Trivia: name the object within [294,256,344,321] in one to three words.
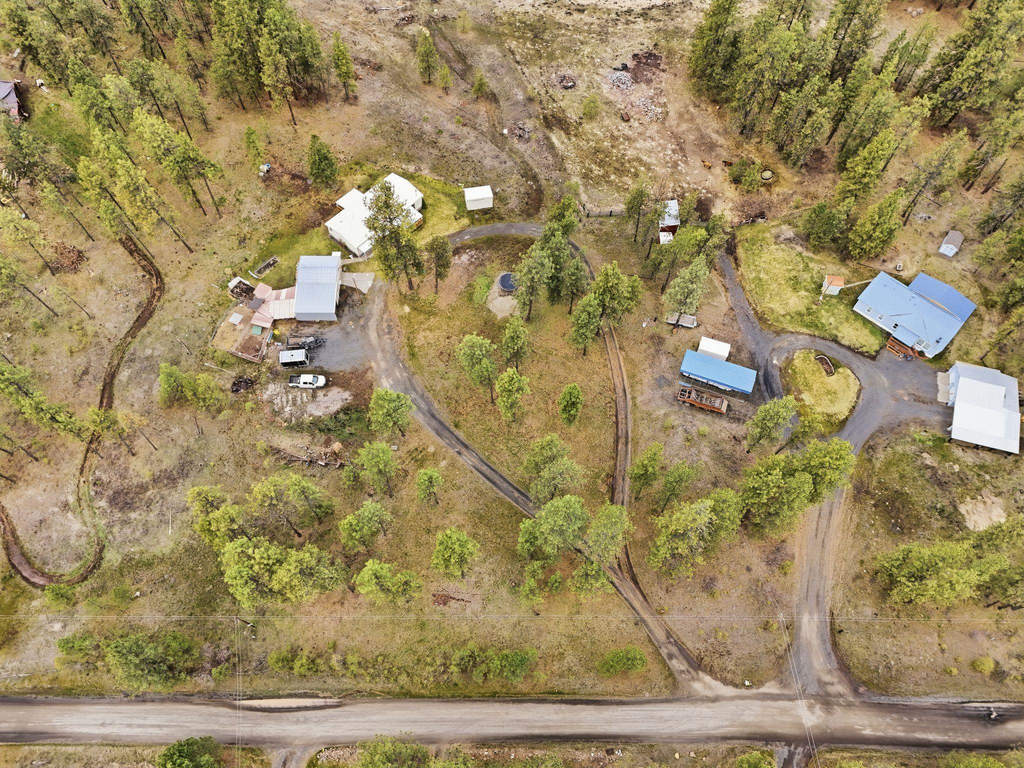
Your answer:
building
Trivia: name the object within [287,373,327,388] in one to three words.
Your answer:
vehicle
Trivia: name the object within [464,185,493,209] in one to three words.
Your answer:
shed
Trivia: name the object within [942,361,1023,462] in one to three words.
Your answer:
building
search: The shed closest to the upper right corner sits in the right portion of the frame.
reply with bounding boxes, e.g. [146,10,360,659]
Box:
[939,231,965,257]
